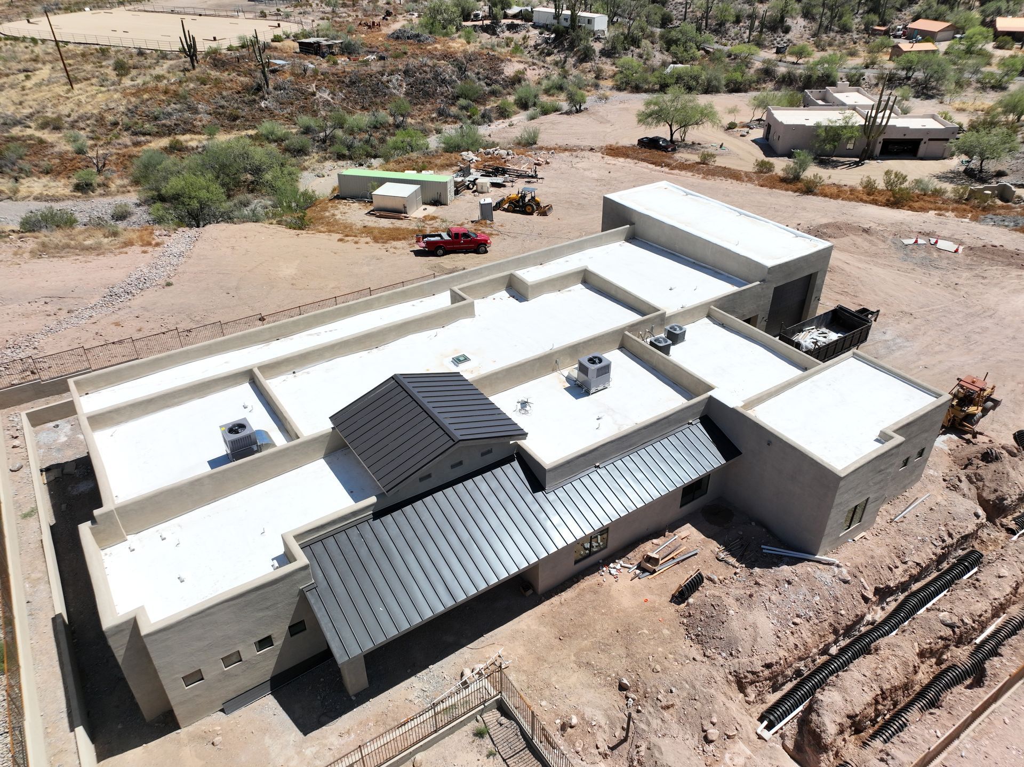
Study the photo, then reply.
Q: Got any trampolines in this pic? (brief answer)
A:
No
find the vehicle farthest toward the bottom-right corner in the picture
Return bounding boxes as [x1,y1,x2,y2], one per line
[948,376,1016,437]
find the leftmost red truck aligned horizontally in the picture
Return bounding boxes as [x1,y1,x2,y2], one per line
[419,228,494,256]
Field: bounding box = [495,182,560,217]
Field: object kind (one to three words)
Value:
work vehicle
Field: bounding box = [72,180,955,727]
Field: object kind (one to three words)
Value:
house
